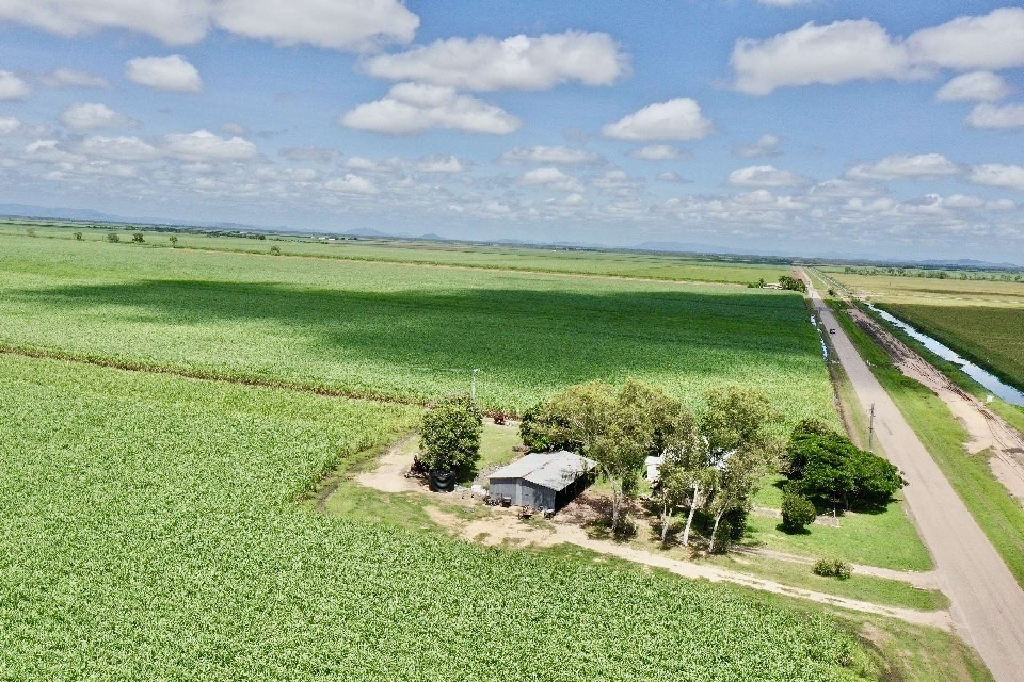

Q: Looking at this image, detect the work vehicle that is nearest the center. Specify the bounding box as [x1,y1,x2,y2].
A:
[494,413,507,425]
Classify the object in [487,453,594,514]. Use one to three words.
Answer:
shed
